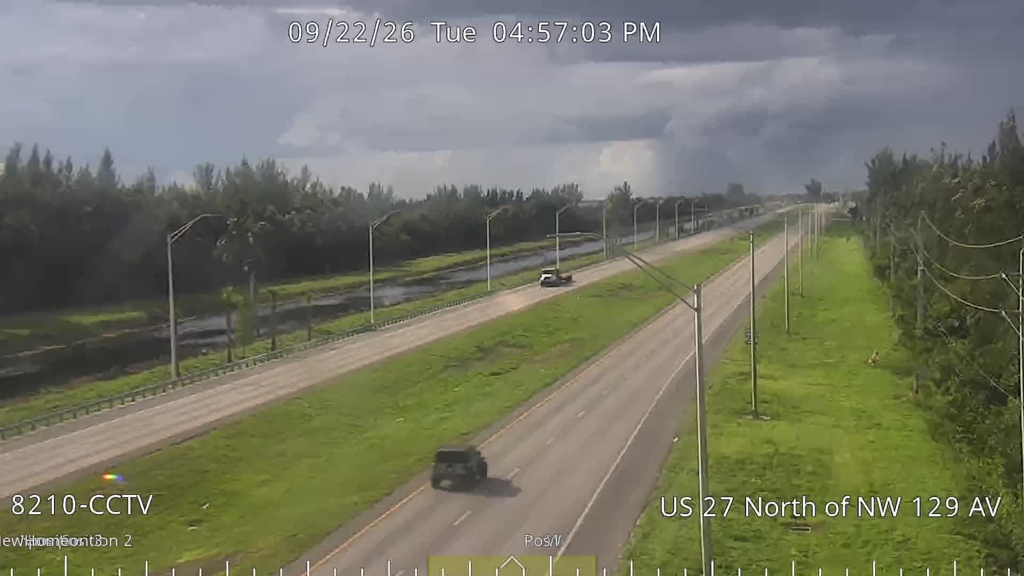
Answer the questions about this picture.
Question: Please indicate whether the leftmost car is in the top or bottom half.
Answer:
bottom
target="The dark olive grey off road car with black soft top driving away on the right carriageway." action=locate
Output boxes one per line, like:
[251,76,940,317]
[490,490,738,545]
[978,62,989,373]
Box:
[429,443,486,488]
